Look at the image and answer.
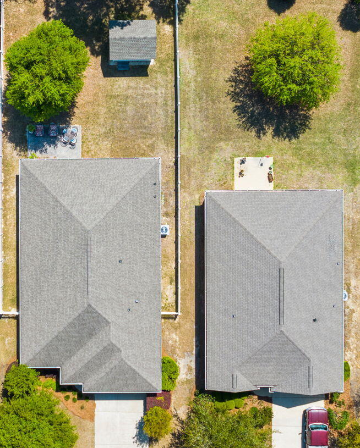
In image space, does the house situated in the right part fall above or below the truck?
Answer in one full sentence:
You can see the house situated in the right part above the truck in the frame.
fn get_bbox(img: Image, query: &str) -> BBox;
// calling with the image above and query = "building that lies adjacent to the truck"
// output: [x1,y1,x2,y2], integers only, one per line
[204,190,345,396]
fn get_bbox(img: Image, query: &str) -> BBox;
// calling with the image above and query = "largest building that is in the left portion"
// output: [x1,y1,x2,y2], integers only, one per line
[19,159,162,394]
